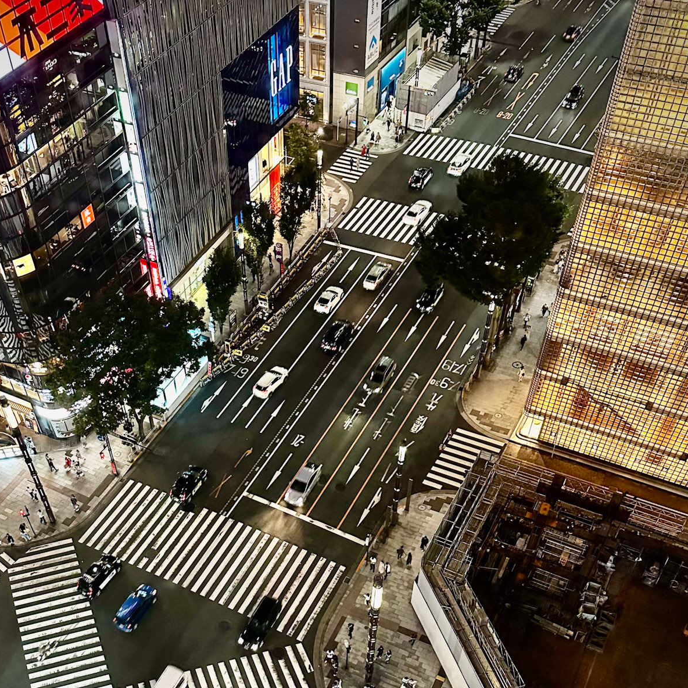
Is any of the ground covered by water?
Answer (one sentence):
No, no water is visible.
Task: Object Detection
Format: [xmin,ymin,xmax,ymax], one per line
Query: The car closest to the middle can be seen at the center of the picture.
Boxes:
[320,320,356,358]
